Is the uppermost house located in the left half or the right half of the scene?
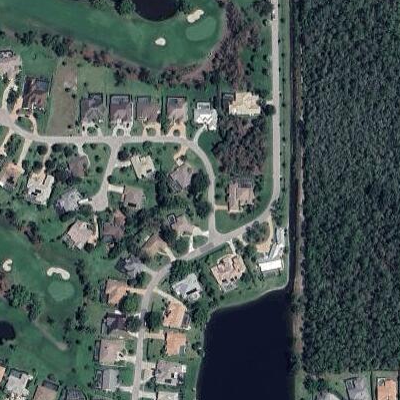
left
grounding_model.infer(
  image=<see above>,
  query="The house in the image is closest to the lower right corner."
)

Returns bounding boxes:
[377,376,397,400]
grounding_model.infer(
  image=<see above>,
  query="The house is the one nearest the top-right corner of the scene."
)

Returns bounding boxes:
[227,91,260,115]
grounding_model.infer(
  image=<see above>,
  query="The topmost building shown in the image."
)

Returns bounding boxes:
[0,50,21,78]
